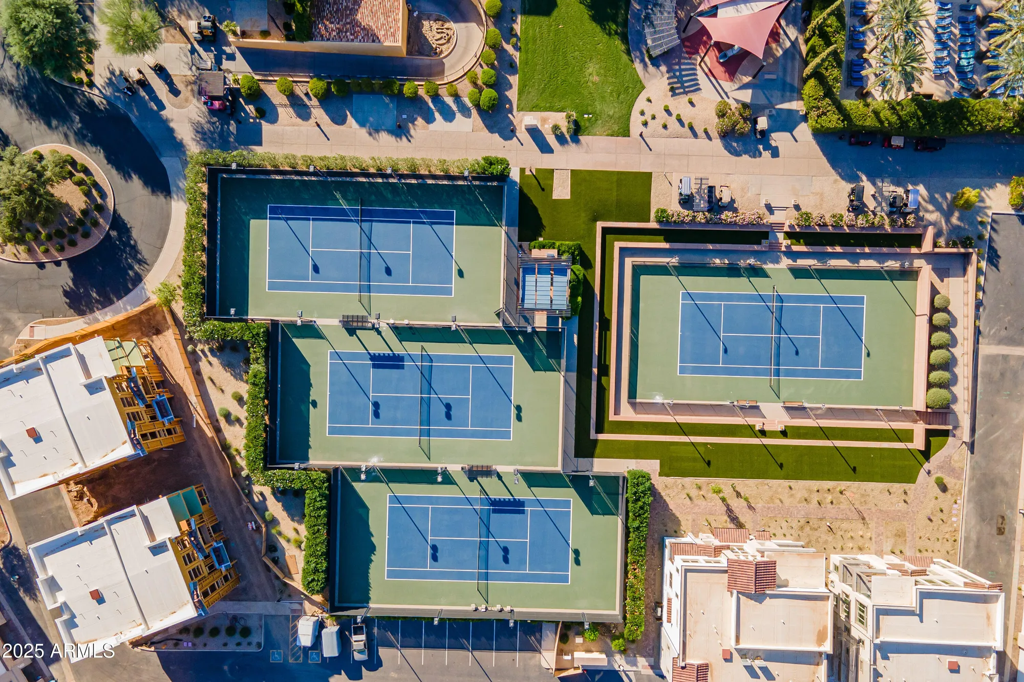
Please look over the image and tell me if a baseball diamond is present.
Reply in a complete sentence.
No, the picture doesn't show any baseball diamond.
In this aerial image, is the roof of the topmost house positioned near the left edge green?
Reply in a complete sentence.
No, the roof of the topmost house positioned near the left edge is actually white.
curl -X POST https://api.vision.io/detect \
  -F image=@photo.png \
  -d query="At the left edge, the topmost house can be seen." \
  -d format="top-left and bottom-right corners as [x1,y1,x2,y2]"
[0,328,188,502]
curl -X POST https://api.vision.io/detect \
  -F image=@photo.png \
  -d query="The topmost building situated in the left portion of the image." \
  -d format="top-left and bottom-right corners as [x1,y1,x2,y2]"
[306,0,406,59]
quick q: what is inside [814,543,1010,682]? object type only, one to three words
house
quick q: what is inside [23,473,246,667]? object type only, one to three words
house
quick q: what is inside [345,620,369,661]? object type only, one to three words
truck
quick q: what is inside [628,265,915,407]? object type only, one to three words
tennis court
